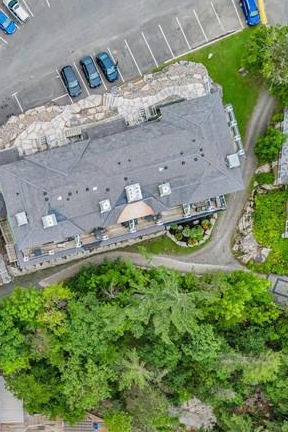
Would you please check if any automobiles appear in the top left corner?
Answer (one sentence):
Yes, in the top left corner there is an automobile.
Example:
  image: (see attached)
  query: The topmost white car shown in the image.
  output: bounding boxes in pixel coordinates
[5,0,30,21]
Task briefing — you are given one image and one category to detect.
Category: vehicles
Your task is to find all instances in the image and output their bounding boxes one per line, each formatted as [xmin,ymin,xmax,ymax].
[81,54,103,87]
[61,62,84,96]
[242,0,261,22]
[97,49,120,82]
[5,0,30,21]
[0,6,18,33]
